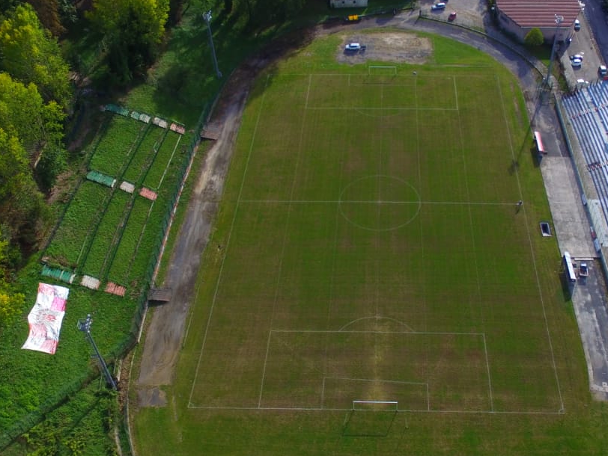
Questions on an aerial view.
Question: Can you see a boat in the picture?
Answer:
No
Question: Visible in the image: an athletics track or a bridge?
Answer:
athletics track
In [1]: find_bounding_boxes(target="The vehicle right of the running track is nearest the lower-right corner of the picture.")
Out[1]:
[576,261,589,276]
